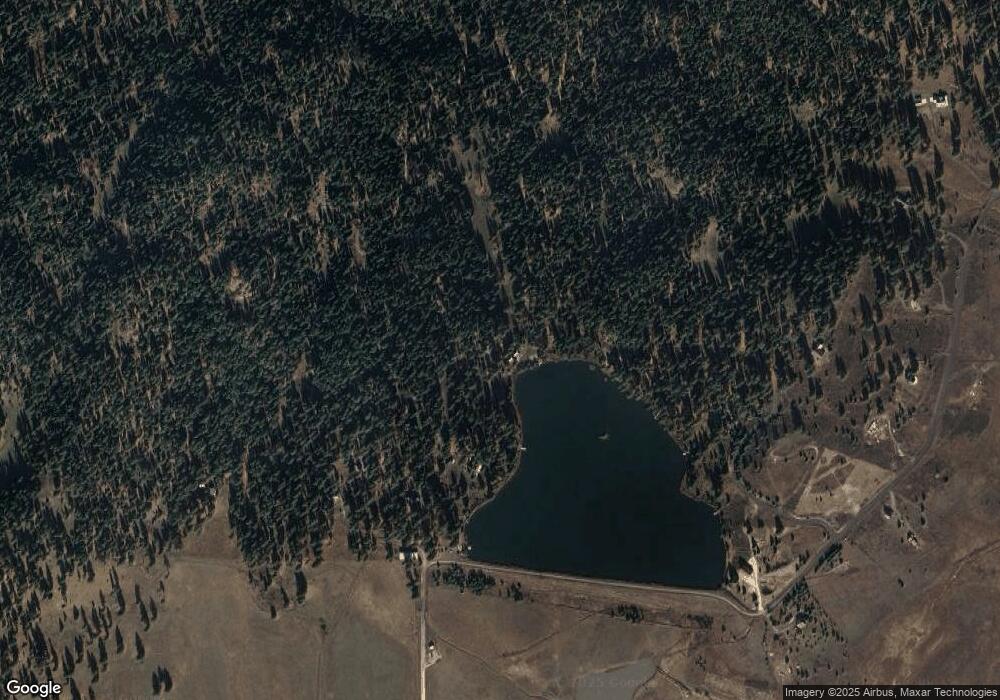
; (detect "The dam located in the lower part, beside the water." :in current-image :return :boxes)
[425,556,763,615]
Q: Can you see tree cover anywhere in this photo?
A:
Yes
